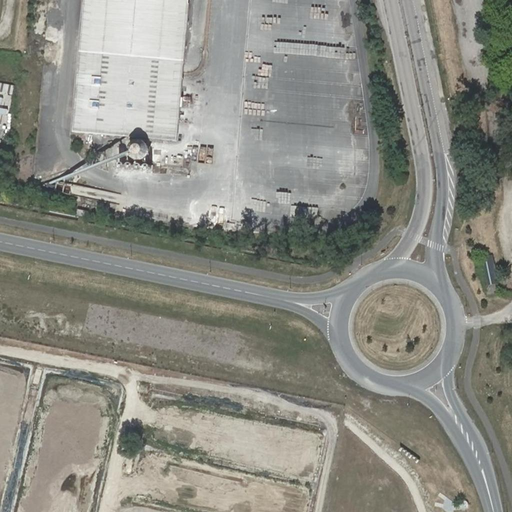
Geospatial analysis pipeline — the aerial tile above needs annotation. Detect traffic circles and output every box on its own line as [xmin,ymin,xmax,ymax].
[330,260,466,396]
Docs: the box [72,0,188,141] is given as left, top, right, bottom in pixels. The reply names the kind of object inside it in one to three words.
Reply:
building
